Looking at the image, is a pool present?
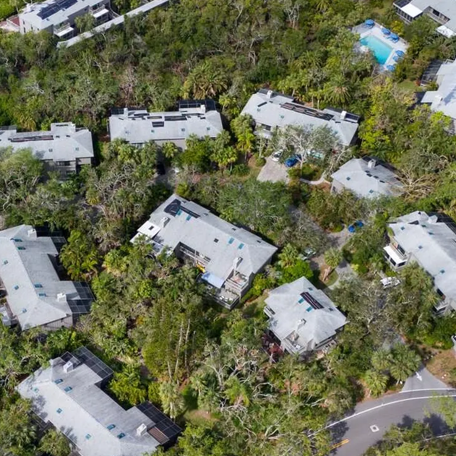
Yes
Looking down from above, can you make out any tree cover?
Yes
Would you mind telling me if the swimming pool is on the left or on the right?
right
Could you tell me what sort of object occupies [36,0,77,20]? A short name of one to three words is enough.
solar panel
